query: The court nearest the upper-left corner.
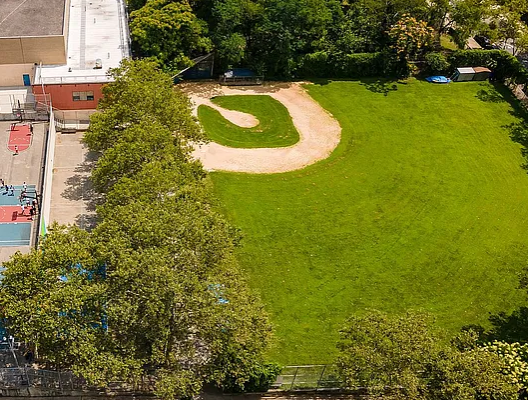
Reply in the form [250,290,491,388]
[6,124,32,153]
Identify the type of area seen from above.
sports ground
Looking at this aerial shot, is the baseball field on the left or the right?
right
